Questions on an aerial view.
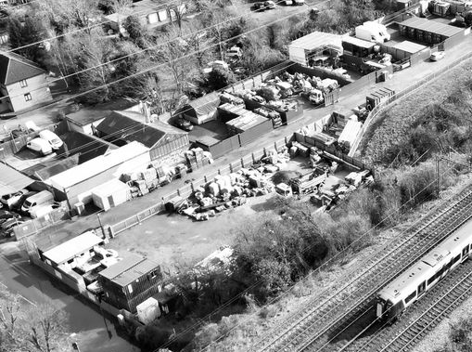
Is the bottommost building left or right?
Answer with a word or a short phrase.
left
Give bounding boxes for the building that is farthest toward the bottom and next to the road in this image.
[82,241,160,305]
